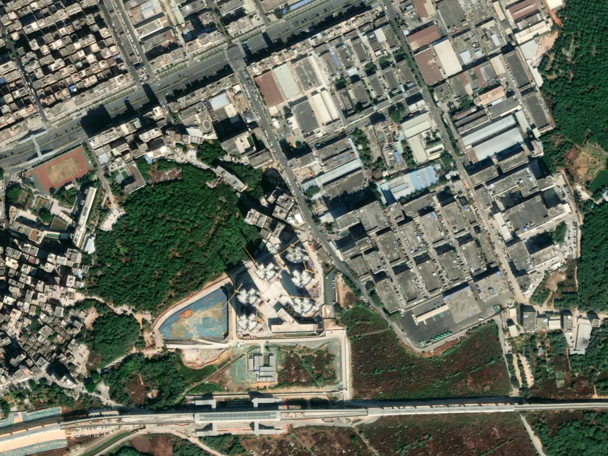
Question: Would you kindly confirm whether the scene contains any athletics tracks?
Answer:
Yes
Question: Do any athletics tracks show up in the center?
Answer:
No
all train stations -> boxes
[193,398,285,436]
